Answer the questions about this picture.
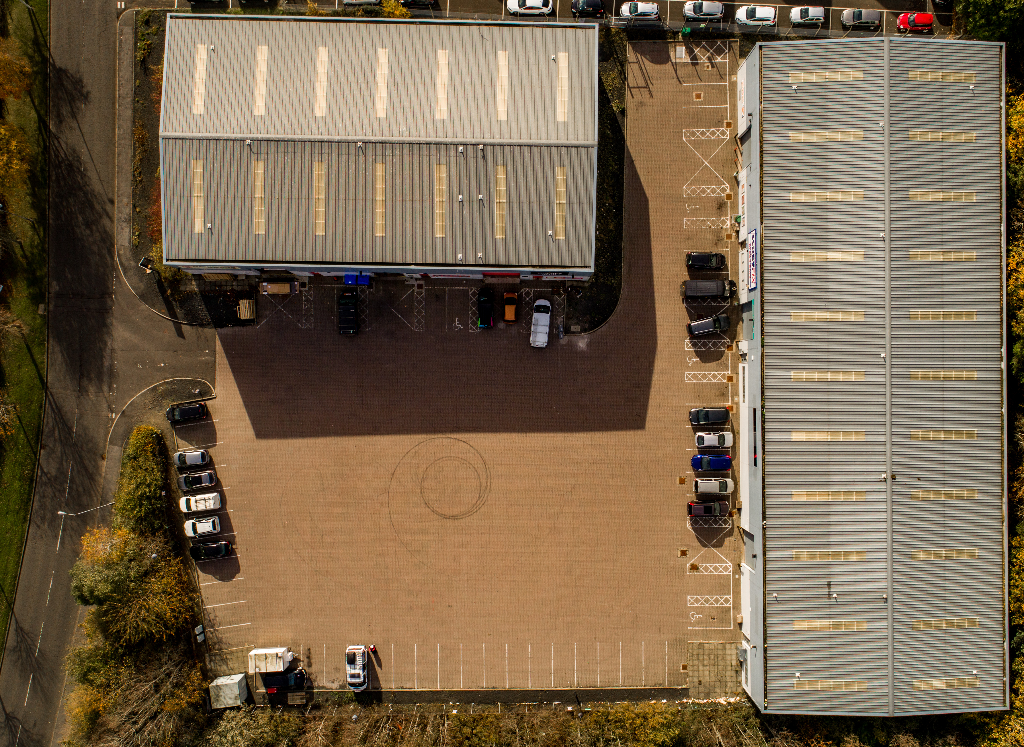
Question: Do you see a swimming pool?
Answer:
No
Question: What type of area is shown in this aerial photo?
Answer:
industrial area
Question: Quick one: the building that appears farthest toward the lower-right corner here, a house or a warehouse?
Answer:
warehouse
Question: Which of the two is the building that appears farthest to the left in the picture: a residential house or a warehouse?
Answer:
warehouse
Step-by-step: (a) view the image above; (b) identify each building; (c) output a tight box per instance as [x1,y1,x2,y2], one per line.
[160,15,598,292]
[737,38,1012,716]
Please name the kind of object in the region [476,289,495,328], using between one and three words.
vehicle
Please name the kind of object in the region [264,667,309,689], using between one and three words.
truck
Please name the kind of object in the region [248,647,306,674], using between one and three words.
trailer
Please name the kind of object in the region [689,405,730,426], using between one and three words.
car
